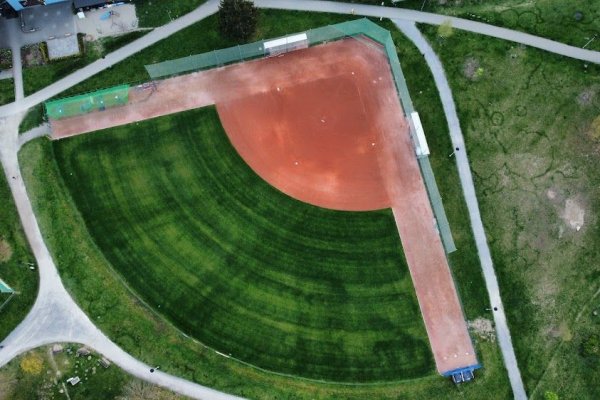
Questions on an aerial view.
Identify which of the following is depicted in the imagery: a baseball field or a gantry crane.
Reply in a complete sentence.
The one in the frame is a baseball field.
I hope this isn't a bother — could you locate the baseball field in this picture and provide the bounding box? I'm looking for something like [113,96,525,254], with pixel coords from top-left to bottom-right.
[46,34,481,385]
